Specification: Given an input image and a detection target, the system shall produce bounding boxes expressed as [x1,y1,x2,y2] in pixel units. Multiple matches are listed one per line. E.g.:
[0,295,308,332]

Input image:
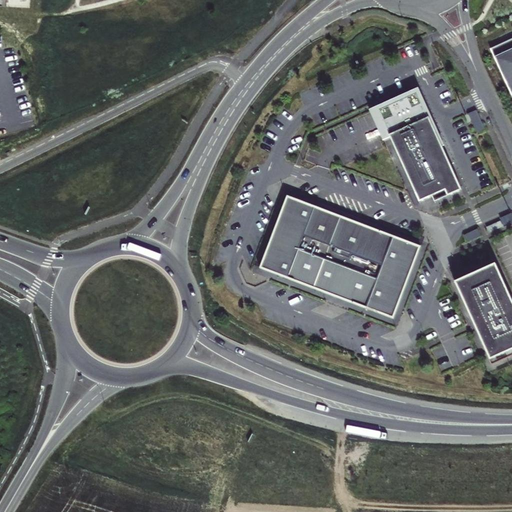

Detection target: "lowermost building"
[455,262,512,373]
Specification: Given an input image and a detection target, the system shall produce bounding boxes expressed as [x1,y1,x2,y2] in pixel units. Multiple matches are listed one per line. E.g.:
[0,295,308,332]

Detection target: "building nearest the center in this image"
[260,195,423,326]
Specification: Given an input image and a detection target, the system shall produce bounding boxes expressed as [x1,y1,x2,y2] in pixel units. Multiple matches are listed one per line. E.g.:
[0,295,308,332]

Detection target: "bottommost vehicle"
[346,426,388,440]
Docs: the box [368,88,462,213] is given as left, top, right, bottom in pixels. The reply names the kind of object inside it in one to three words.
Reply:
building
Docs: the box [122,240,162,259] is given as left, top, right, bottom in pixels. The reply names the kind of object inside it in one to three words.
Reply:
vehicle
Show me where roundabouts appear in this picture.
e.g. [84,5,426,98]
[50,236,202,388]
